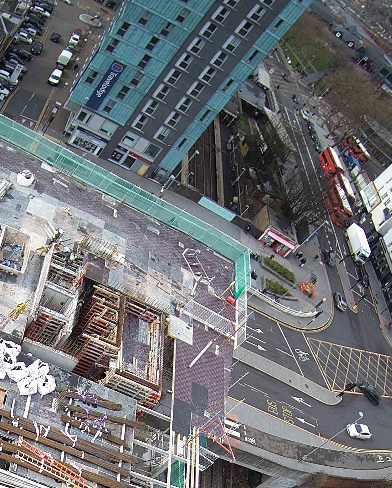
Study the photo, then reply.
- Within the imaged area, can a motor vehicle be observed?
Yes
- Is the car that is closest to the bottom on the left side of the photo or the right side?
right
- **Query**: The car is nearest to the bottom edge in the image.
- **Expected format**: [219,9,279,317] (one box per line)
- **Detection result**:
[348,420,376,441]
